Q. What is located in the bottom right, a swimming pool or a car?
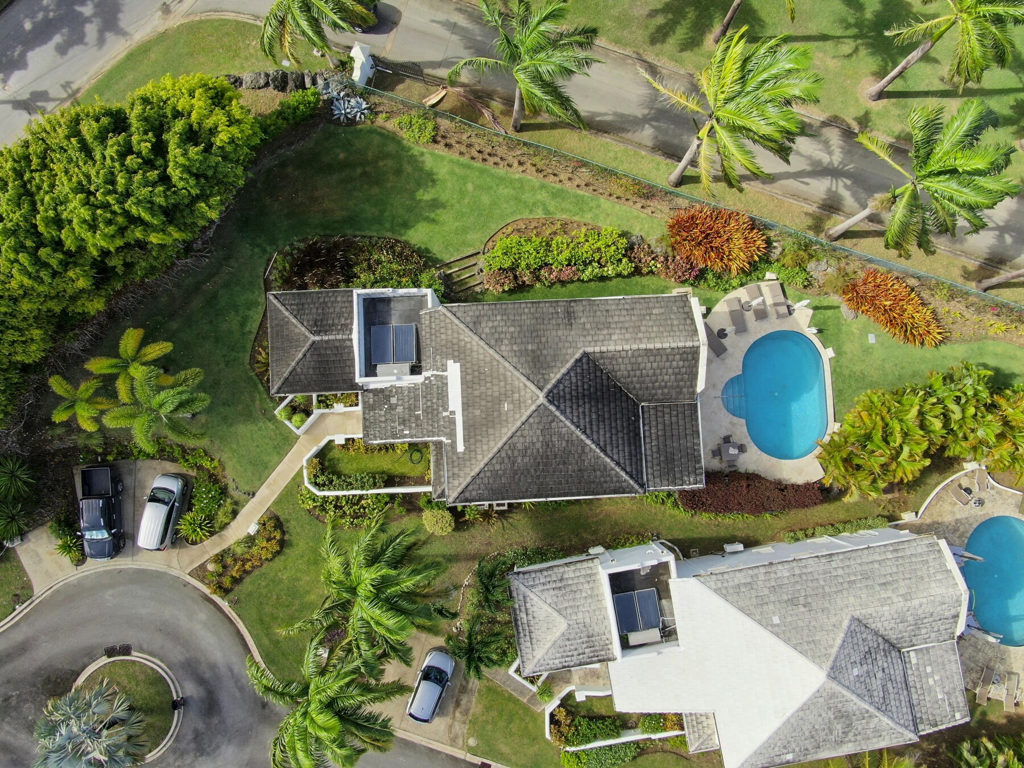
swimming pool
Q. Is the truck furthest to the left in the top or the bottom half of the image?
bottom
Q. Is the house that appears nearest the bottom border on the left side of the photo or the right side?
right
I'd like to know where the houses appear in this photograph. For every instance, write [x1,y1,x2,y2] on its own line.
[508,526,978,768]
[266,283,711,507]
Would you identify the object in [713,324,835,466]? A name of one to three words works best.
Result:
swimming pool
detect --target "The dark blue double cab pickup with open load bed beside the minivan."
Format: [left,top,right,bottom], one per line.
[78,455,132,559]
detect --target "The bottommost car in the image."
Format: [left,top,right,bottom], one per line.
[408,642,456,730]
